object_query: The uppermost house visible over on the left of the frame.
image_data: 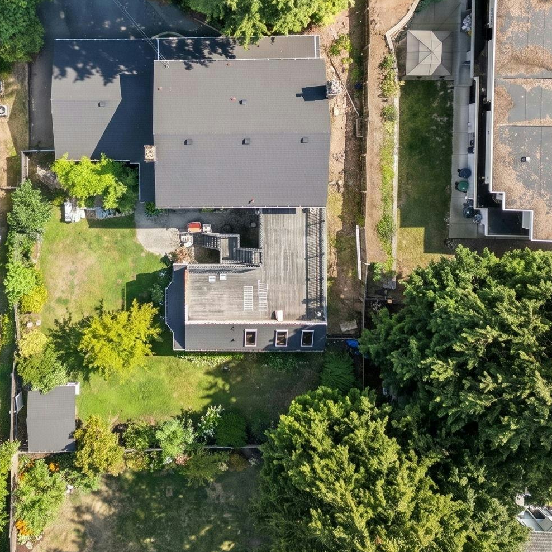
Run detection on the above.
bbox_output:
[50,30,343,208]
